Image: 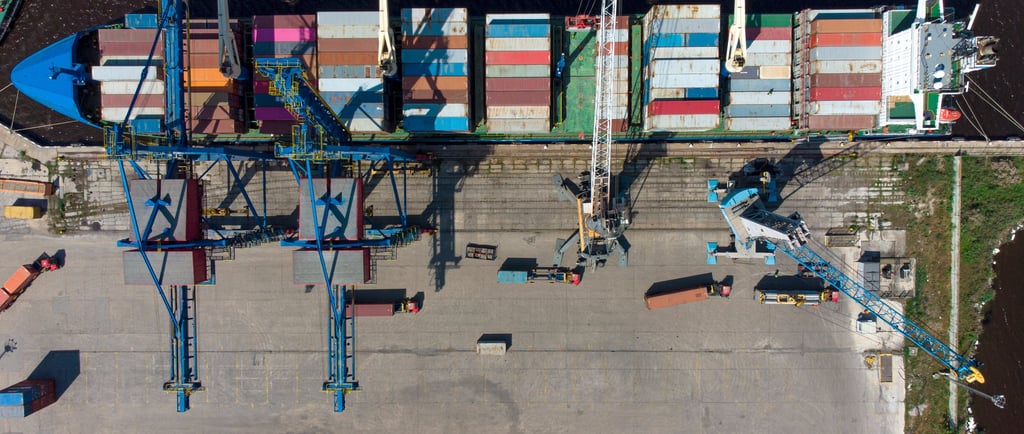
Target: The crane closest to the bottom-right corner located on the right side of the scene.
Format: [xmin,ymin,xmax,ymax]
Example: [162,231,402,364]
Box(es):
[707,159,991,387]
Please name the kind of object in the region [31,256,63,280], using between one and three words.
truck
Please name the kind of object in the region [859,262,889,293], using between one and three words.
shed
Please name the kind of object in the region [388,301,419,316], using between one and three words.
vehicle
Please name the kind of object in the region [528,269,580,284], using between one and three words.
vehicle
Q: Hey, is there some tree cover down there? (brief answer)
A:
No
